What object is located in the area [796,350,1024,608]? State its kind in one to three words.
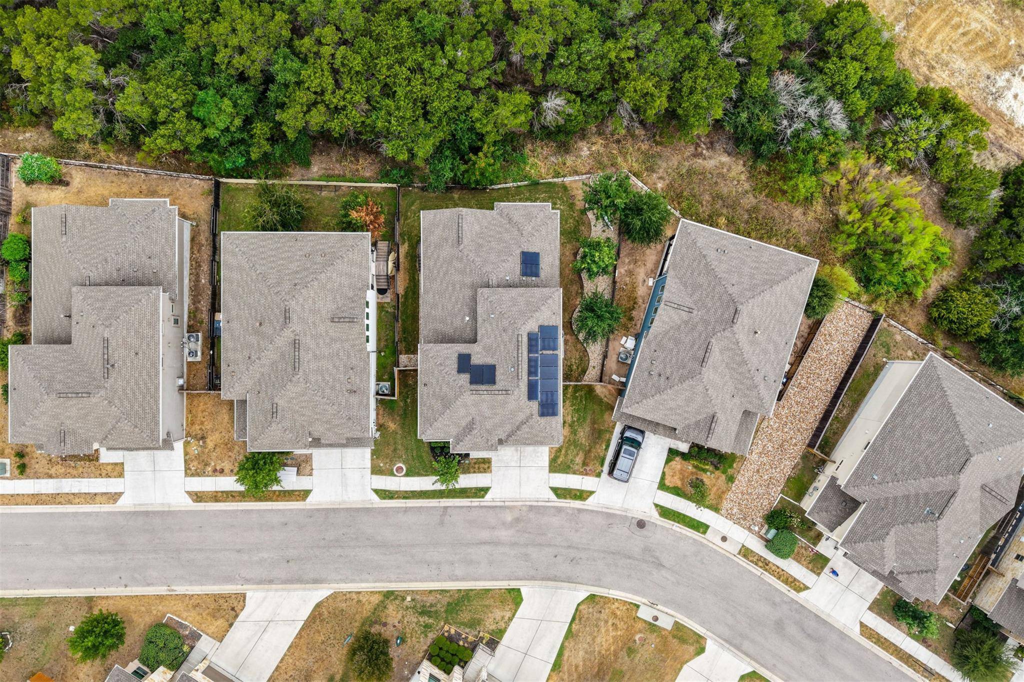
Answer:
house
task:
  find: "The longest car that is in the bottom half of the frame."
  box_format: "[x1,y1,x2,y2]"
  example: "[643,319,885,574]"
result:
[609,426,644,486]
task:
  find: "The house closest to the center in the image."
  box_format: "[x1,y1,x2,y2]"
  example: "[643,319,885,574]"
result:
[416,201,563,455]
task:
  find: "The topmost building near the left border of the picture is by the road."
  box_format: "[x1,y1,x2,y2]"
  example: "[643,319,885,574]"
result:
[7,197,194,456]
